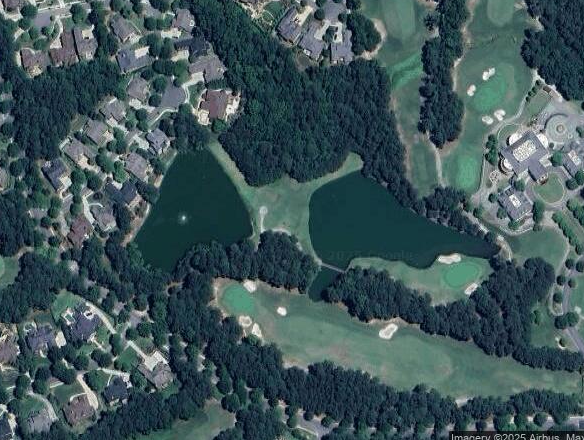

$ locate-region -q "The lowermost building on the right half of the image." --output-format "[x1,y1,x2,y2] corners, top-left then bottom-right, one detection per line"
[497,185,532,220]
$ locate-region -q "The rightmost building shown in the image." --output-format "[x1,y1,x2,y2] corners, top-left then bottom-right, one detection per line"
[560,147,584,178]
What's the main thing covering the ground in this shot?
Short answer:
trees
